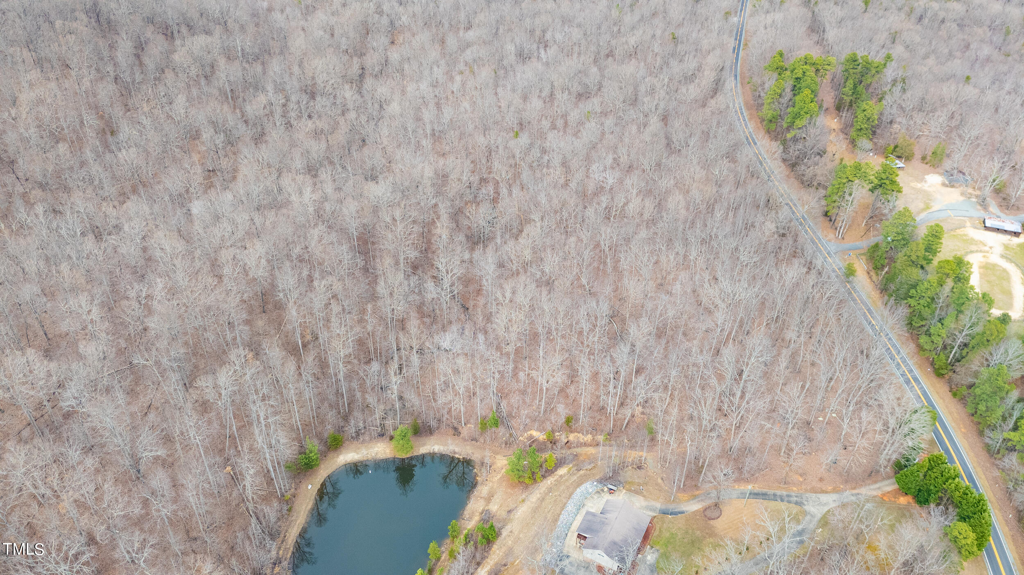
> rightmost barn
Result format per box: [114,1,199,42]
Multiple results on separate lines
[979,215,1021,237]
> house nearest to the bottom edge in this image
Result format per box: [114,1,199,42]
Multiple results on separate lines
[576,499,648,575]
